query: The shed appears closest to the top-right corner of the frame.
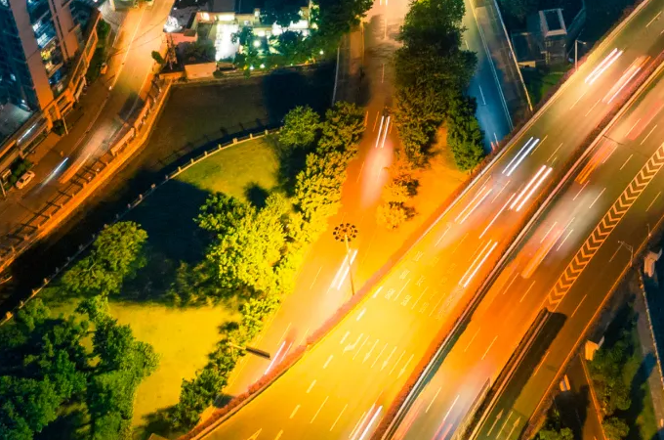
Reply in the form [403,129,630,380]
[540,2,576,57]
